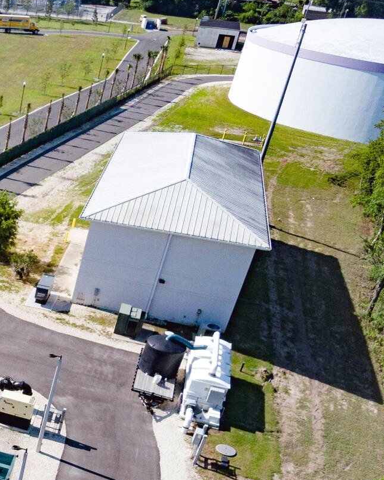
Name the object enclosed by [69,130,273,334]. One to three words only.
building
